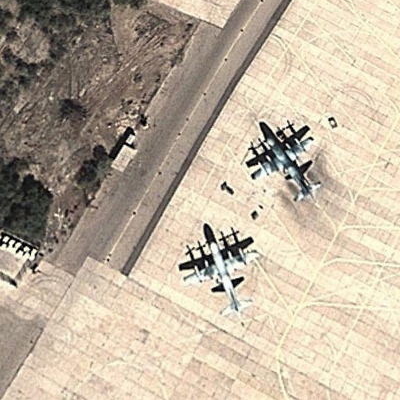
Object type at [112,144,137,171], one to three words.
building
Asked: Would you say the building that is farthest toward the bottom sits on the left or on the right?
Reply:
left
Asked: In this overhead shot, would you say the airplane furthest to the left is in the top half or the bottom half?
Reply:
bottom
